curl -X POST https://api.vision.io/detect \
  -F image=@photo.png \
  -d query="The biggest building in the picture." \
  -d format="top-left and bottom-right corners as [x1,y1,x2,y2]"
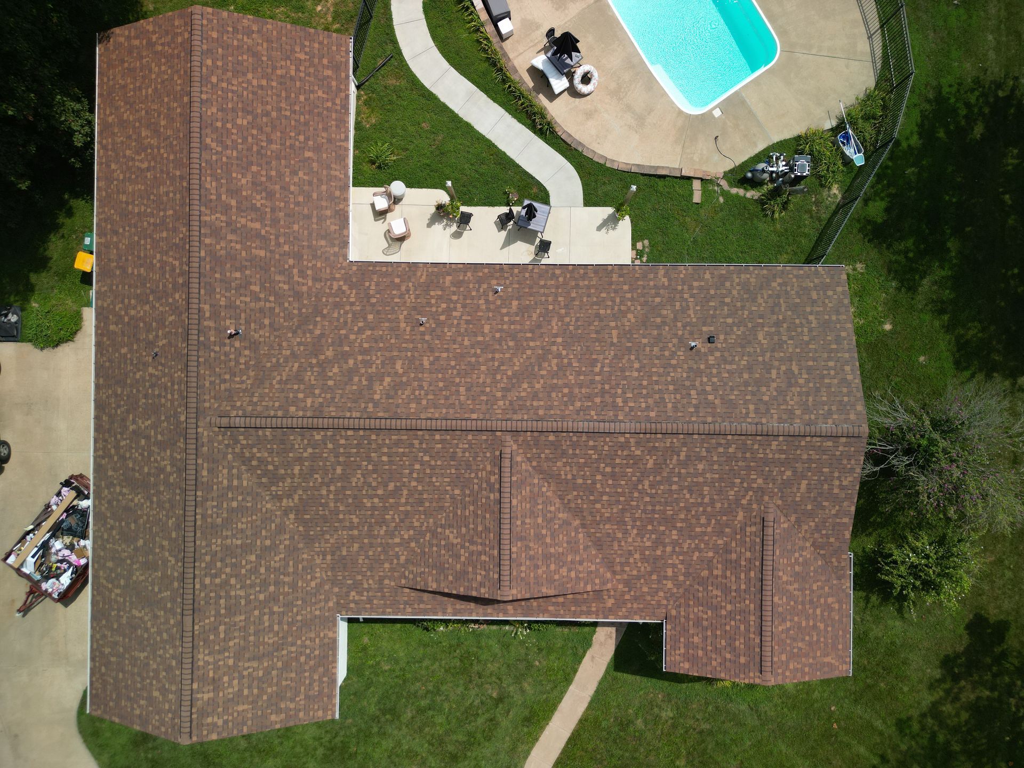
[88,6,869,744]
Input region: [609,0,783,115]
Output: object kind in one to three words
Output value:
swimming pool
